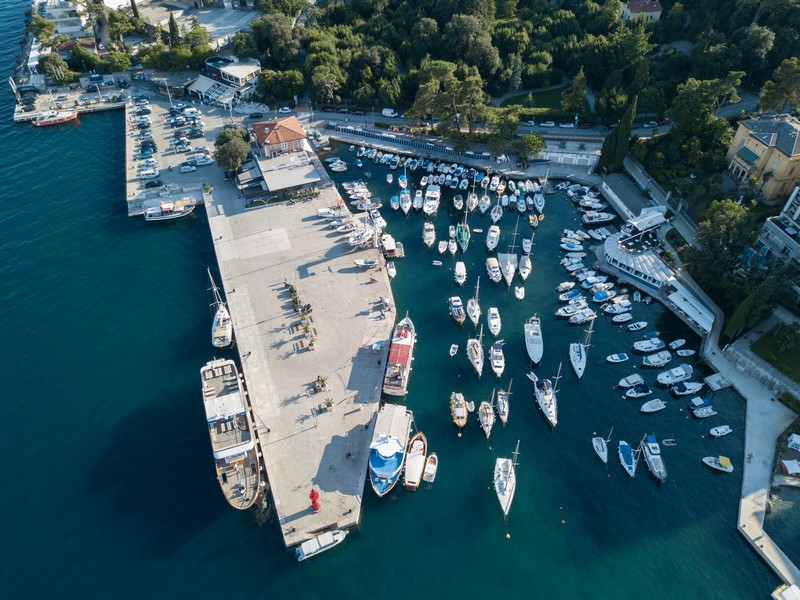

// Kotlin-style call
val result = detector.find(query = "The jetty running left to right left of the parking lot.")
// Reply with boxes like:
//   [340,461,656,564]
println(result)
[14,87,127,125]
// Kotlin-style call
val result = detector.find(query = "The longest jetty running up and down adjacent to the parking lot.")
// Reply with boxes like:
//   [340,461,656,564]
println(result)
[203,123,397,547]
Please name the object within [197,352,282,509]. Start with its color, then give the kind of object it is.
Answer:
white ship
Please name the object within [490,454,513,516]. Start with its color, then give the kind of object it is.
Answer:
white boat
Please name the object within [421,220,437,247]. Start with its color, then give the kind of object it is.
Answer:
white boat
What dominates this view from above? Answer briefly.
water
